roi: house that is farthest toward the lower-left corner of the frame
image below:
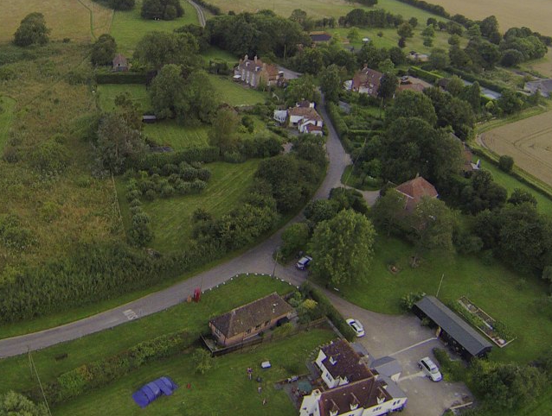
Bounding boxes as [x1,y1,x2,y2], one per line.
[202,290,294,350]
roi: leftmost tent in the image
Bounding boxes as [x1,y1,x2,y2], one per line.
[127,378,179,410]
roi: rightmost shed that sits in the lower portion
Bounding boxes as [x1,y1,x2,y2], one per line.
[412,294,495,366]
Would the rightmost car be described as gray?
Yes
